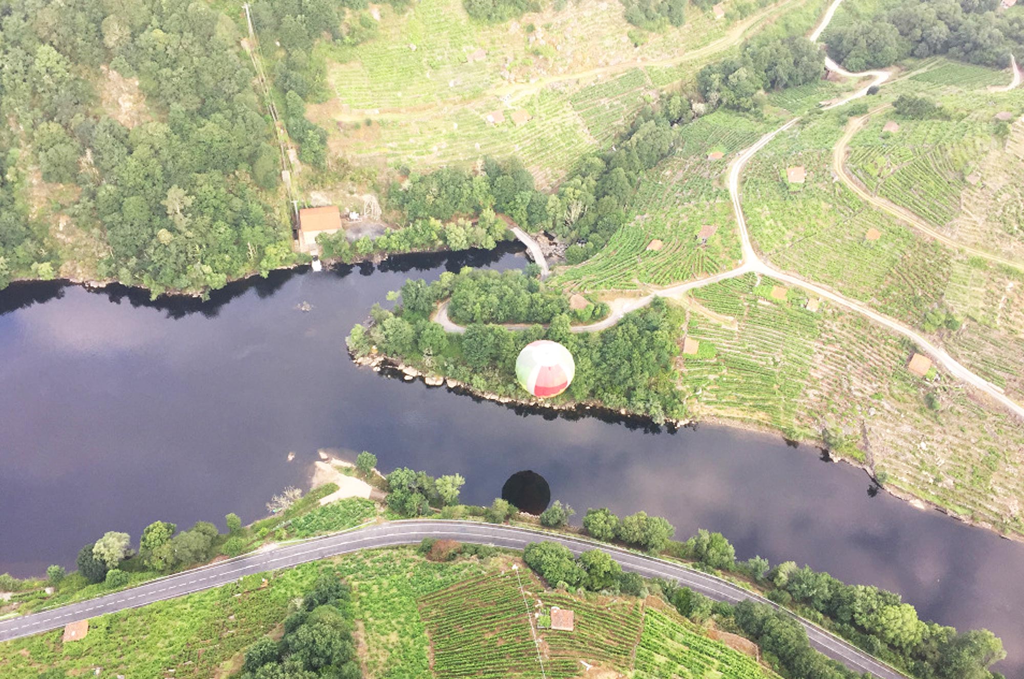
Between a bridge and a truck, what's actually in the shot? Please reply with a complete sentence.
Looking from above, you can make out a bridge.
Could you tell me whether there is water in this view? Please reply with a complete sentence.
Yes, there is water in the image.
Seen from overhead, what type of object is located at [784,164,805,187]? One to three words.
shed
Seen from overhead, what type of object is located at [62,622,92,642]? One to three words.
shed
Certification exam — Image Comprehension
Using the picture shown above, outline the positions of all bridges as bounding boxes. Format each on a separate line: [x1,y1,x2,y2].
[510,225,553,281]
